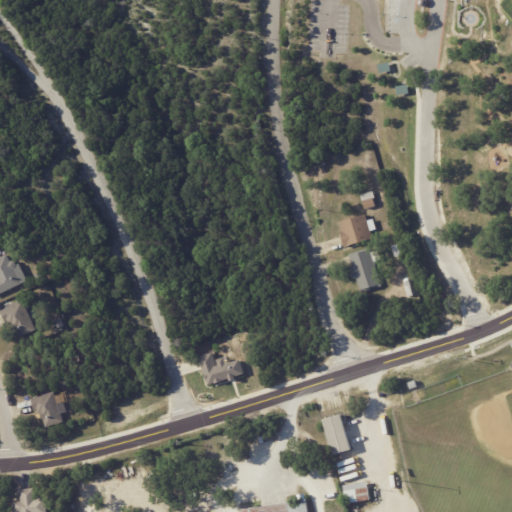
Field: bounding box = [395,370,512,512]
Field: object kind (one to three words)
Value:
baseball field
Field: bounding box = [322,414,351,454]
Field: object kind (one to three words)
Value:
building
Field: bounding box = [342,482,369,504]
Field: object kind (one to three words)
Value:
building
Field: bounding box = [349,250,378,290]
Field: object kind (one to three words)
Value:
house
